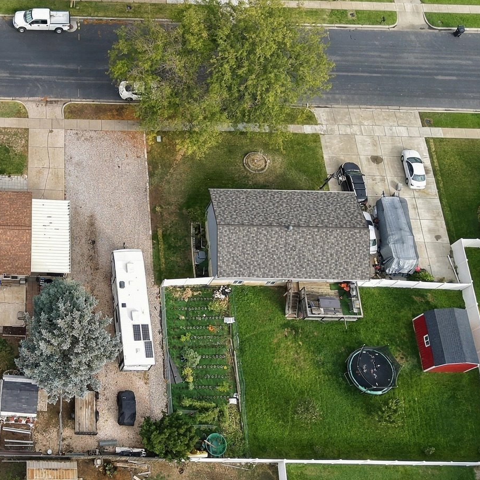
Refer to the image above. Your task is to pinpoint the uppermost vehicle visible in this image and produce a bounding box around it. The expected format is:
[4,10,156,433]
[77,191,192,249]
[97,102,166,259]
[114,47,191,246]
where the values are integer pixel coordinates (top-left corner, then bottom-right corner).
[15,9,71,36]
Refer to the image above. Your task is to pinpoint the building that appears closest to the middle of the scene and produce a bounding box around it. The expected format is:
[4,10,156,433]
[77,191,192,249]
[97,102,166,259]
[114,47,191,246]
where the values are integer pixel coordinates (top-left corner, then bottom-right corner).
[204,188,372,287]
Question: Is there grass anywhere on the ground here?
Yes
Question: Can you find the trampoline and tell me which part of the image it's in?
bottom right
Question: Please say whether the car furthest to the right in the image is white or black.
white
